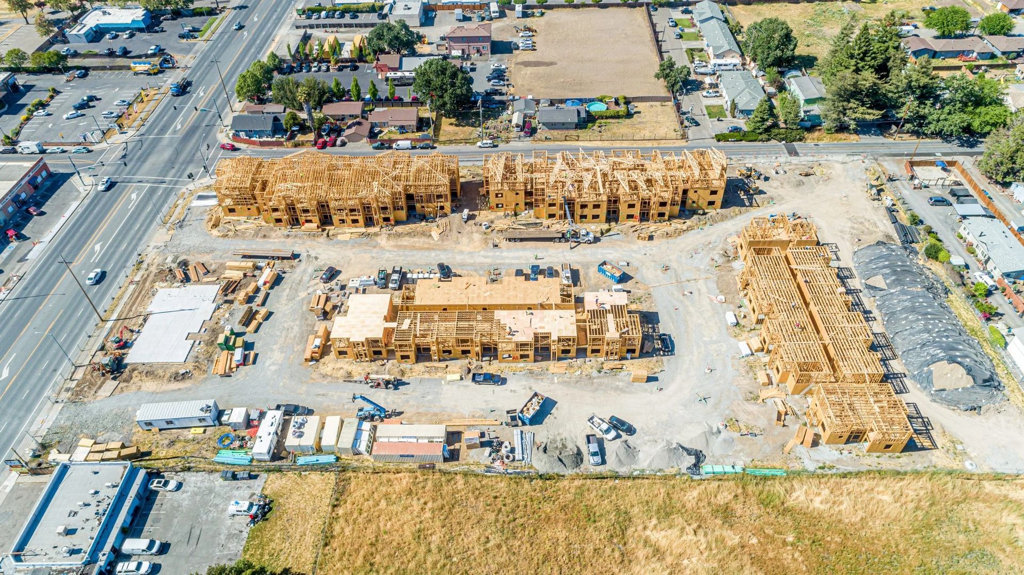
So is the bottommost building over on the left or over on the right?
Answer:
left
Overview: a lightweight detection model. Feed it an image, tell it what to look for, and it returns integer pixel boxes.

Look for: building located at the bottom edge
[8,461,156,575]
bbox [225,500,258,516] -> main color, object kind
white car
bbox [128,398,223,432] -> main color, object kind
white trailer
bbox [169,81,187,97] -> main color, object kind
blue vehicle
